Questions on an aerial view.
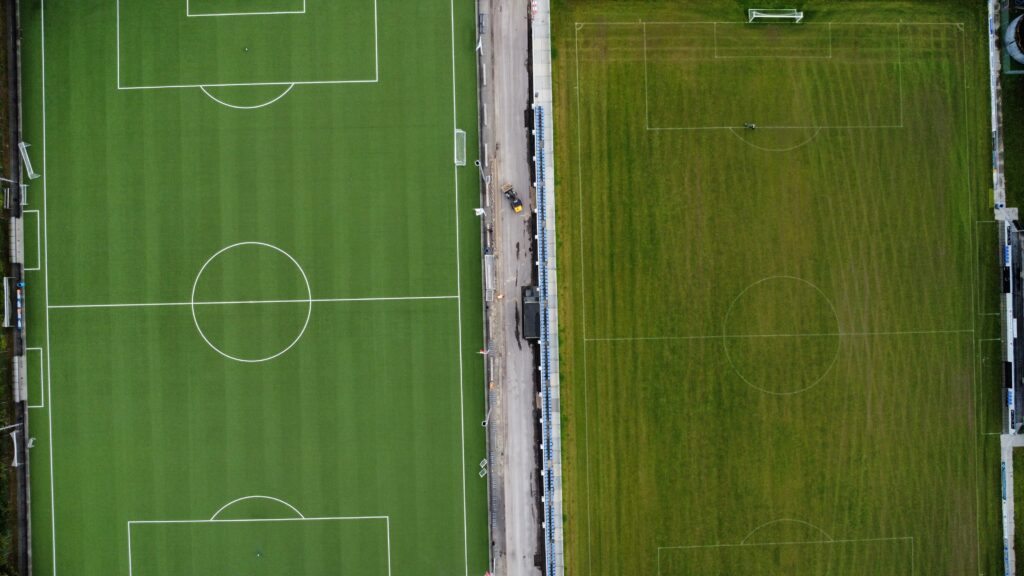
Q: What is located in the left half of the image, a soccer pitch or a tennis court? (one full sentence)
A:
The feature located in the left half of the image is a soccer pitch.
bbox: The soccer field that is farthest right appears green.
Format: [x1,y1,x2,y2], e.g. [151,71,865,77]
[549,0,1019,576]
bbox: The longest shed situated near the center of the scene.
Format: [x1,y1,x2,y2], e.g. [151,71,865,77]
[521,286,540,339]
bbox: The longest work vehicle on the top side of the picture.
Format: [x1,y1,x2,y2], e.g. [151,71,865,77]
[500,181,523,214]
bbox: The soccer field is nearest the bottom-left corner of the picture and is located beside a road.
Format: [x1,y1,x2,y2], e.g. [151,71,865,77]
[19,0,489,576]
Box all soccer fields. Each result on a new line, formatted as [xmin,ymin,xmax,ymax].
[19,0,489,576]
[549,0,1019,576]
